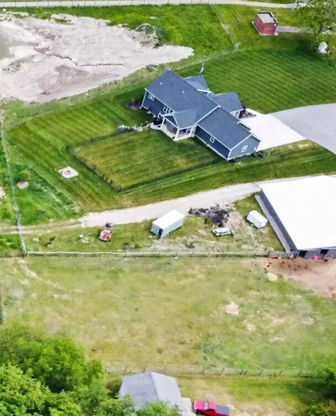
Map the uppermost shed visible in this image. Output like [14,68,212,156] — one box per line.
[253,10,280,35]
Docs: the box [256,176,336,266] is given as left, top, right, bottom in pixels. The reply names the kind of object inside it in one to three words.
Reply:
barn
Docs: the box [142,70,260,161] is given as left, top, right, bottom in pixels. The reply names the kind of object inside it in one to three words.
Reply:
house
